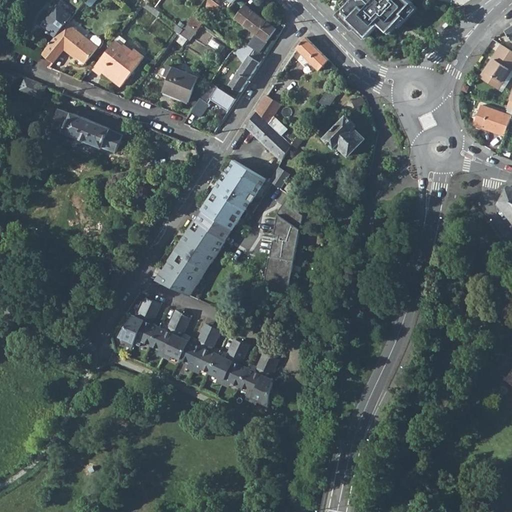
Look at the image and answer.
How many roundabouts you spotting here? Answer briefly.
2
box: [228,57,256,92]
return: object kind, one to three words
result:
shed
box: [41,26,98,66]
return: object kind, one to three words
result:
house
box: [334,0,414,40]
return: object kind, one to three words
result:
building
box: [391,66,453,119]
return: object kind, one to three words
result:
roundabout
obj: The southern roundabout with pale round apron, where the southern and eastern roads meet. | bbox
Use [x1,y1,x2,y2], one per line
[412,124,466,174]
